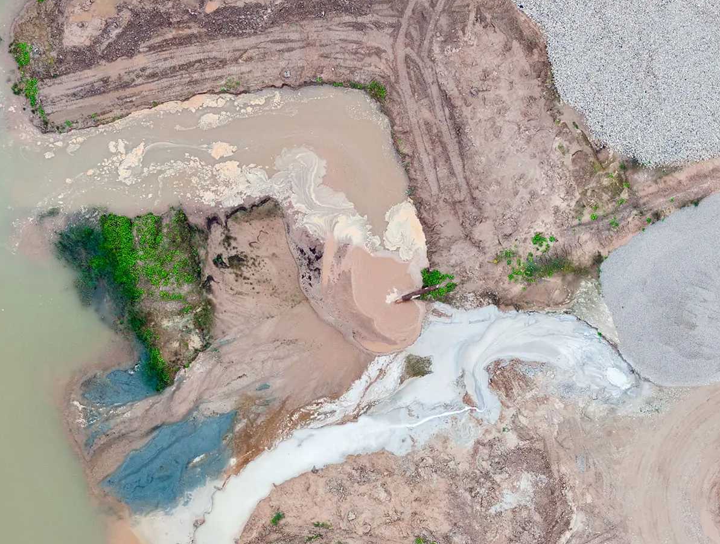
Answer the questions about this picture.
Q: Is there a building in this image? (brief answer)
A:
No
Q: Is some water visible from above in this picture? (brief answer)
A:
Yes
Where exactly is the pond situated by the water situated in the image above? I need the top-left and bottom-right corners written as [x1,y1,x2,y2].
[33,83,429,353]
